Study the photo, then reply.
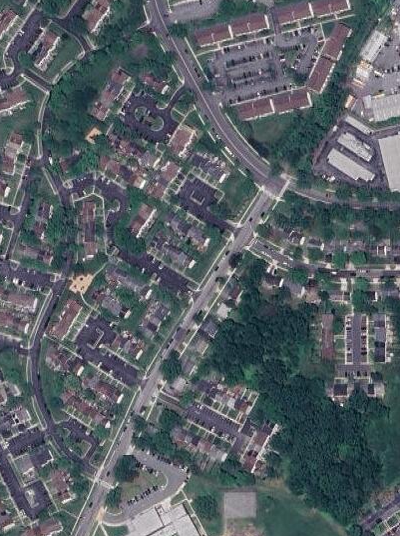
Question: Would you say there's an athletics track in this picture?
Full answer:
No, there is no athletics track in the image.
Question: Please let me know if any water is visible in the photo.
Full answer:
No, no water is visible.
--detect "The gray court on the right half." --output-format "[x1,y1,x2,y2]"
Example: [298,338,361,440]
[225,492,256,518]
